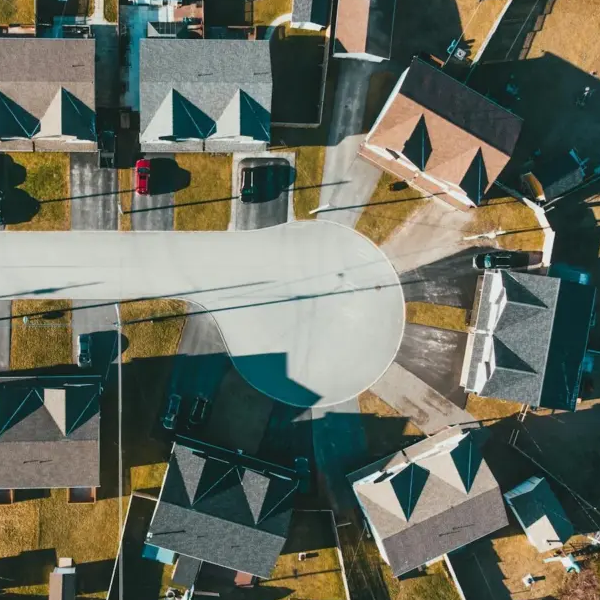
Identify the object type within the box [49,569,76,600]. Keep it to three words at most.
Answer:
shed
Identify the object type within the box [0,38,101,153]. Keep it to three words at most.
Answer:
house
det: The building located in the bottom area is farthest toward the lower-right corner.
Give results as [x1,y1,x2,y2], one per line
[511,473,576,550]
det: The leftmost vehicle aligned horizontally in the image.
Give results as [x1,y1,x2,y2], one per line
[473,251,516,270]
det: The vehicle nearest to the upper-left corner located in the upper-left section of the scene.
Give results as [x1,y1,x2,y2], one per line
[99,127,116,169]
